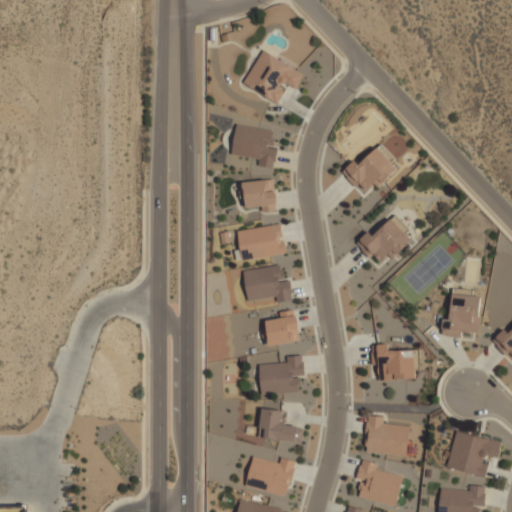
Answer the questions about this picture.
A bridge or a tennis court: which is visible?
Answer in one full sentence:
I can see a tennis court in this picture.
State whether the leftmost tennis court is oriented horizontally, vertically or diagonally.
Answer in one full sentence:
From this overhead view, the leftmost tennis court appears to run diagonally.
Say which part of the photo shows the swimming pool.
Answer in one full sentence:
You can find the swimming pool in the top area of the picture.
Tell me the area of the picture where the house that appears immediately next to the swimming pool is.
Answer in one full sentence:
Look in the top portion of the view to spot the house that appears immediately next to the swimming pool.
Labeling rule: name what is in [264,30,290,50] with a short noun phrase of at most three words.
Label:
swimming pool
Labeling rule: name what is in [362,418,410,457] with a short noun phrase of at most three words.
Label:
house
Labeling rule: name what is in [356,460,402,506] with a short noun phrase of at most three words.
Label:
house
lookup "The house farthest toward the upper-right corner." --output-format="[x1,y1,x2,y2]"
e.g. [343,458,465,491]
[344,144,400,194]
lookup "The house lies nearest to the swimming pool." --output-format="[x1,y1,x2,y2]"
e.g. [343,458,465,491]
[243,50,302,103]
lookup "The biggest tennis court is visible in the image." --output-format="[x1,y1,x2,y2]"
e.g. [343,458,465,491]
[391,233,466,304]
